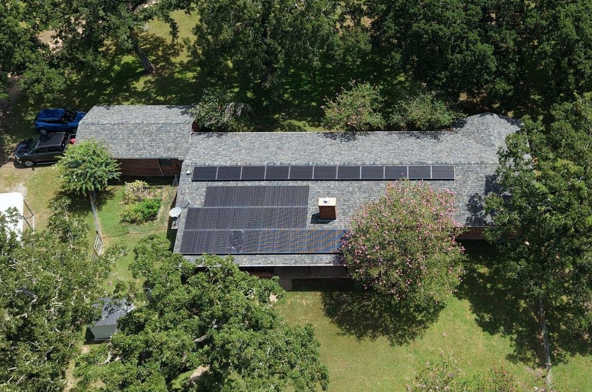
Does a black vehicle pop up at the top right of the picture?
No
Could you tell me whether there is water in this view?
No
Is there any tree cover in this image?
Yes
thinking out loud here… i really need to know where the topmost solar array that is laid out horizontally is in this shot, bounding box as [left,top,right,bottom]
[191,166,455,179]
